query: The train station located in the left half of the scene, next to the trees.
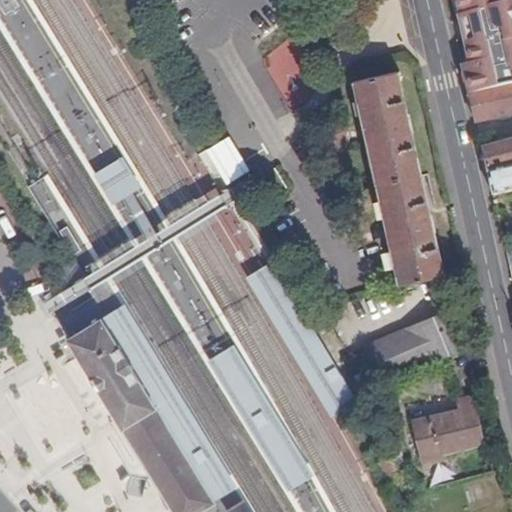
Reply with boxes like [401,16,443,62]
[0,0,334,512]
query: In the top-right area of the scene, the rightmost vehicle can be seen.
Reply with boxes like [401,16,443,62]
[457,120,470,145]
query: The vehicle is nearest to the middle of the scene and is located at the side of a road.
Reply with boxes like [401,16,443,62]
[274,217,296,234]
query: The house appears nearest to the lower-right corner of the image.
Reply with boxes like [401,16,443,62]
[411,394,483,465]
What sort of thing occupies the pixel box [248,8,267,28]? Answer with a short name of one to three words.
car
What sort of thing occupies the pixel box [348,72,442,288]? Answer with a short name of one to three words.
building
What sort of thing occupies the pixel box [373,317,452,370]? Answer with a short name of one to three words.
house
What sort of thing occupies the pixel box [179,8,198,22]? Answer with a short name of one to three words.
vehicle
